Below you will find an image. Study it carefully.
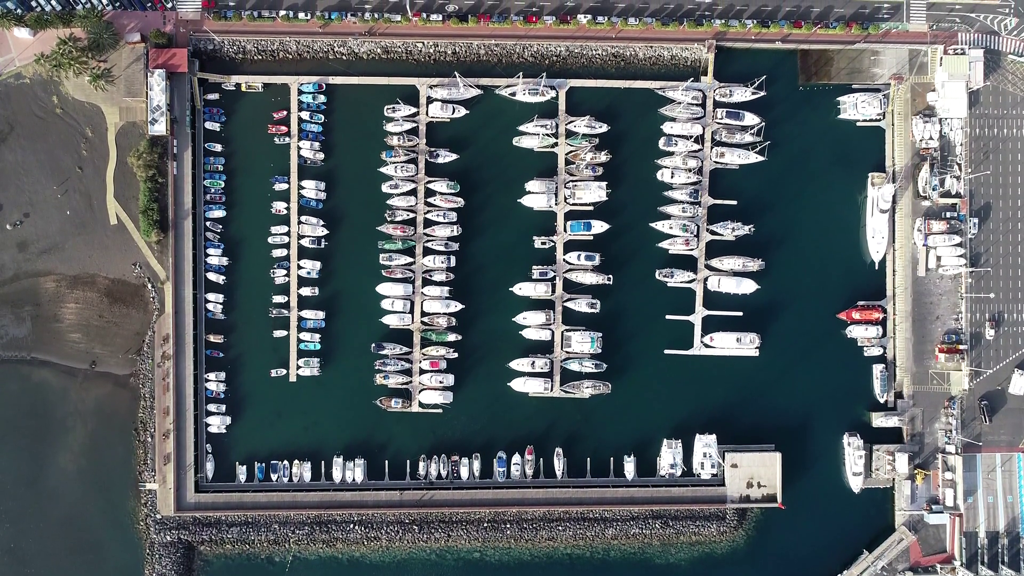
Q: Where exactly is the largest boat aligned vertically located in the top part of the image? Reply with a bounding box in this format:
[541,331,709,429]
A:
[867,168,902,269]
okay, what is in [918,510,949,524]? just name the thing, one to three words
shed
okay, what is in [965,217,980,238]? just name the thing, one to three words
vehicle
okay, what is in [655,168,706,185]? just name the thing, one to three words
boat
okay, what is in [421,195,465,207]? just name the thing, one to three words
boat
